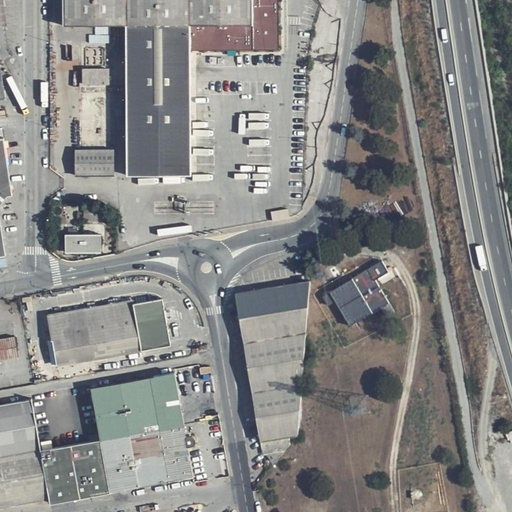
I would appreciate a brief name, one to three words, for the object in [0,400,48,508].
building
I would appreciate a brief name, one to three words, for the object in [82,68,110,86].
shed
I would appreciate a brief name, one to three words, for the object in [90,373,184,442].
building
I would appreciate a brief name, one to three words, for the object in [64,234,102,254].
house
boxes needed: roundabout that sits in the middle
[181,242,232,293]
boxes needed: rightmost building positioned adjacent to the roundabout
[236,282,310,442]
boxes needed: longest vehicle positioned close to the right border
[475,244,488,270]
